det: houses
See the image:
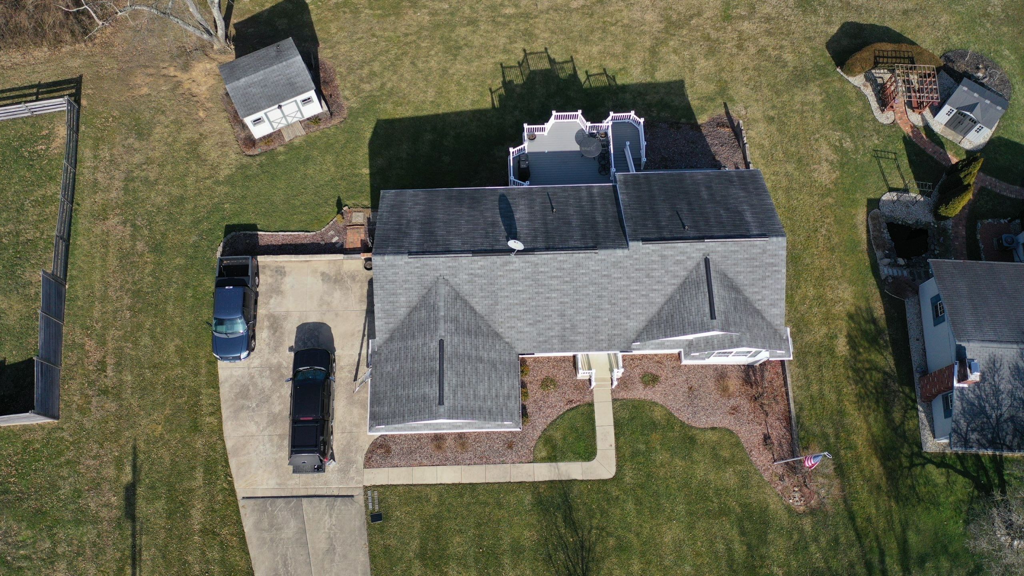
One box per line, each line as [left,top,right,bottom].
[907,255,1024,456]
[365,165,797,439]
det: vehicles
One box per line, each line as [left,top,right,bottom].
[206,250,260,362]
[285,347,337,474]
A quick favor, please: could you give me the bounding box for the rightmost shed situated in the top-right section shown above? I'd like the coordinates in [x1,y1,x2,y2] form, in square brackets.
[934,79,1009,142]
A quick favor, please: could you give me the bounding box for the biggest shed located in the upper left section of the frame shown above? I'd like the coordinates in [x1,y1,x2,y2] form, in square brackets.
[214,36,320,141]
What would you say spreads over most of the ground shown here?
grass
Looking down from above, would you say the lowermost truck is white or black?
black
